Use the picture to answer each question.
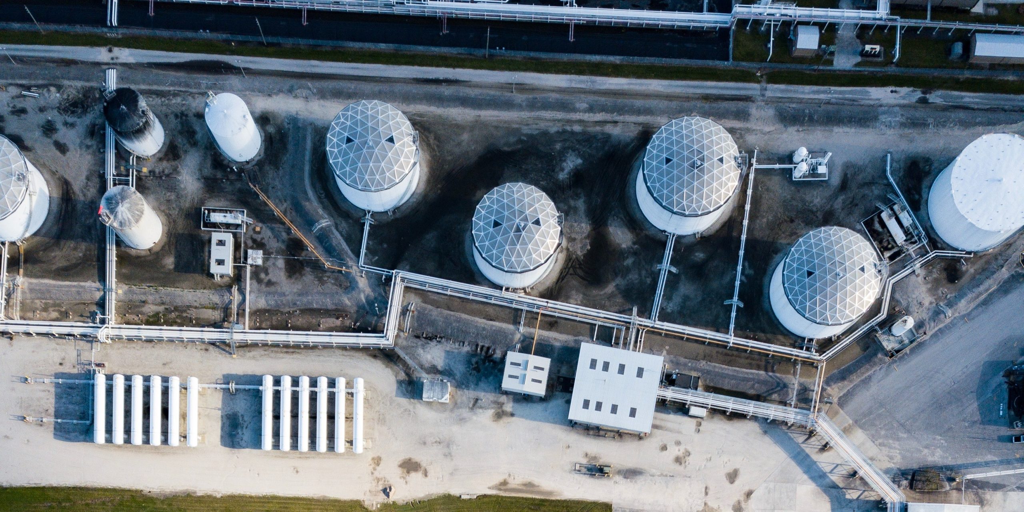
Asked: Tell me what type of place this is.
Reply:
industrial area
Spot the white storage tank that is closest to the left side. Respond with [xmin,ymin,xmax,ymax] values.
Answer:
[0,138,52,240]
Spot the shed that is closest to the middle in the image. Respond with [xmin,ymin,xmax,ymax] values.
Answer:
[501,351,551,399]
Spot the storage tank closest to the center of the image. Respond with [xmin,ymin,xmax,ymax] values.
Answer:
[472,183,571,288]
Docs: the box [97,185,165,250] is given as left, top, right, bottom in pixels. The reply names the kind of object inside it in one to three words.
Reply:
storage tank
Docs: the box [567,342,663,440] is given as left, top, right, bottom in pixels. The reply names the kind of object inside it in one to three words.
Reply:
shed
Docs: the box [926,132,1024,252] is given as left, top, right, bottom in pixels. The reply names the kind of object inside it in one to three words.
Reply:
storage tank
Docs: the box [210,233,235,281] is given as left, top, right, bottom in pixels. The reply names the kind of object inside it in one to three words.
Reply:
building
